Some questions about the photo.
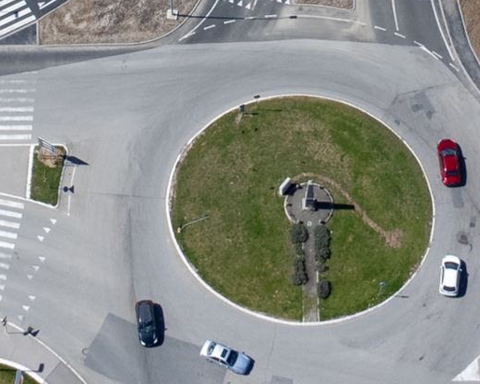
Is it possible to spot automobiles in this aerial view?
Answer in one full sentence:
Yes, this view includes an automobile.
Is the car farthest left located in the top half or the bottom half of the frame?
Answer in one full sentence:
Seen from above, the car farthest left lies in the bottom half of the view.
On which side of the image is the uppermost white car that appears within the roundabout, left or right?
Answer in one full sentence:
You can find the uppermost white car that appears within the roundabout on the right side of the picture.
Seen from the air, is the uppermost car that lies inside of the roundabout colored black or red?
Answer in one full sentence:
The uppermost car that lies inside of the roundabout looks red in the image.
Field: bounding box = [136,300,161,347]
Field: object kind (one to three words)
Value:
car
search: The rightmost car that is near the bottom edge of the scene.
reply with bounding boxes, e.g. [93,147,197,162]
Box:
[198,339,252,376]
